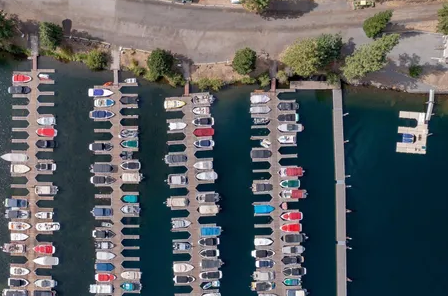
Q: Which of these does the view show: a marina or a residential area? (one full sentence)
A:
It's a marina.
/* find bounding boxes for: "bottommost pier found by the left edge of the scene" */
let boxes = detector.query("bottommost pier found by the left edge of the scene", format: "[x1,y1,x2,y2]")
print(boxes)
[9,69,56,296]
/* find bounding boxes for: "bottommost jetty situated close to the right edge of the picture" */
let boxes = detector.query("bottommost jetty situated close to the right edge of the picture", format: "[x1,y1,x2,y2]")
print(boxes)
[395,111,429,154]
